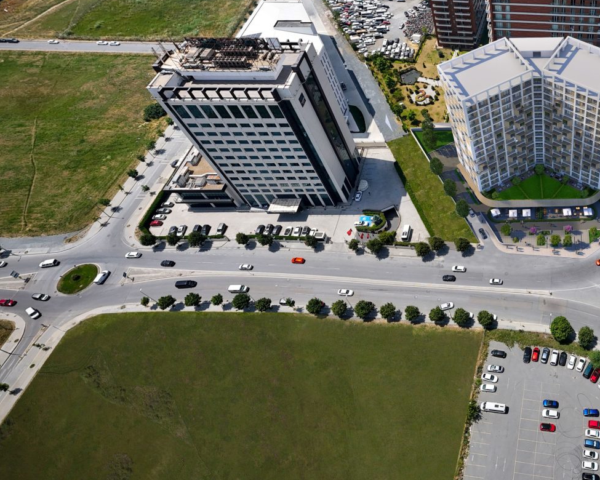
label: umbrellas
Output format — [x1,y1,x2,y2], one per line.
[508,210,518,218]
[562,209,572,216]
[522,210,532,217]
[583,208,593,216]
[490,209,501,217]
